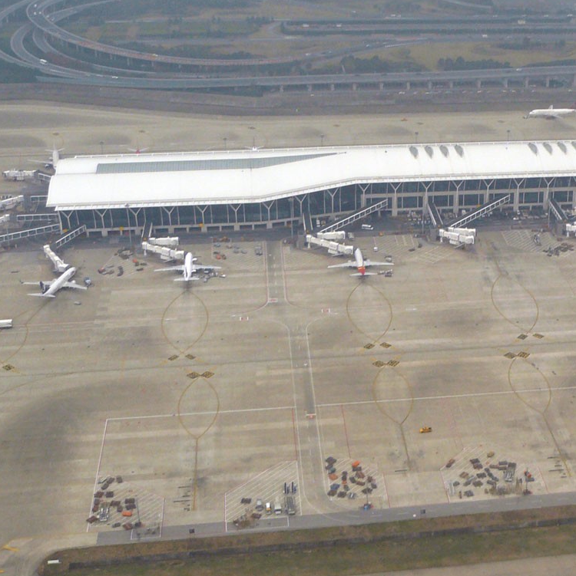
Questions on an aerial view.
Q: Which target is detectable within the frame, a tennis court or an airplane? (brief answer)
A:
airplane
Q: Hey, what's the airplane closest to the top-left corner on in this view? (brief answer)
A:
apron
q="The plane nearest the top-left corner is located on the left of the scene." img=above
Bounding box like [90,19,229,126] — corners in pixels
[26,138,63,170]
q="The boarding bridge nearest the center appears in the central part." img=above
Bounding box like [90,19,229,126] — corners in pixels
[294,202,387,259]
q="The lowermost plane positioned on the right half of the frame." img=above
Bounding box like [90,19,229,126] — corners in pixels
[327,248,394,277]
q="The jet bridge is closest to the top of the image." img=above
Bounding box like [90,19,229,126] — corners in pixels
[0,166,54,191]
